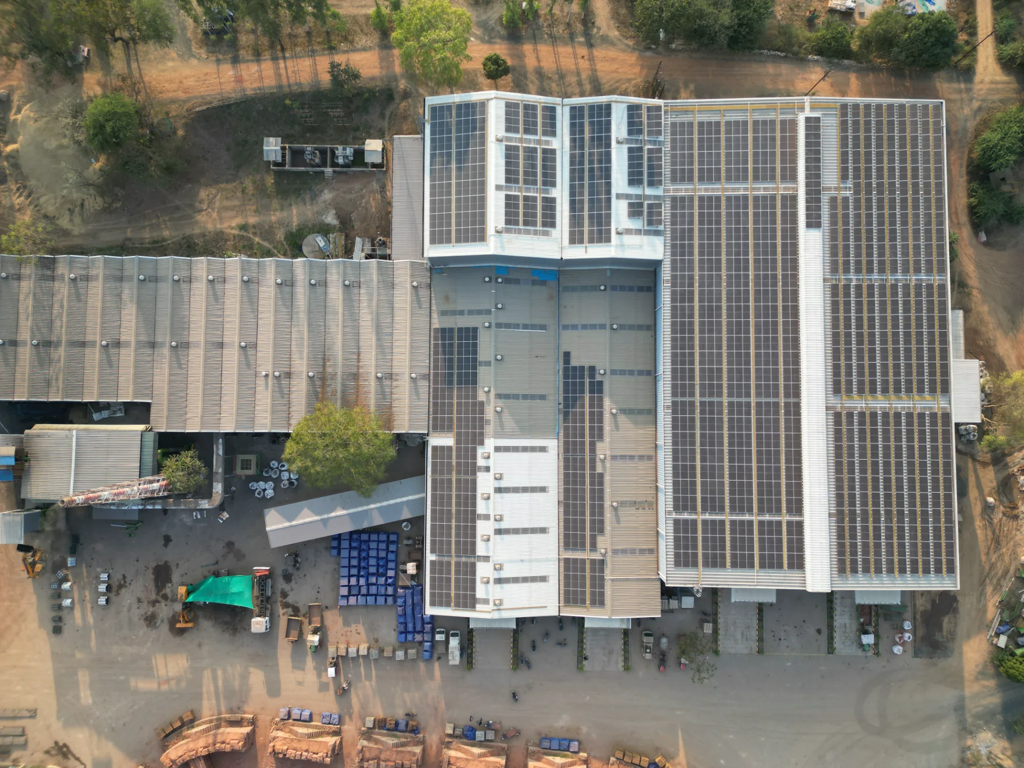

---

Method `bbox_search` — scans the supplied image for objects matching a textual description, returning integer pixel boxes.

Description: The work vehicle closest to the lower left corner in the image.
[13,543,46,583]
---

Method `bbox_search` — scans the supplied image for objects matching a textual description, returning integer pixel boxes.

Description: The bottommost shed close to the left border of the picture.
[2,509,42,543]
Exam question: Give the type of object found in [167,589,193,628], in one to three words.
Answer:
work vehicle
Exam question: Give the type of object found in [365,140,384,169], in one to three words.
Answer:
shed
